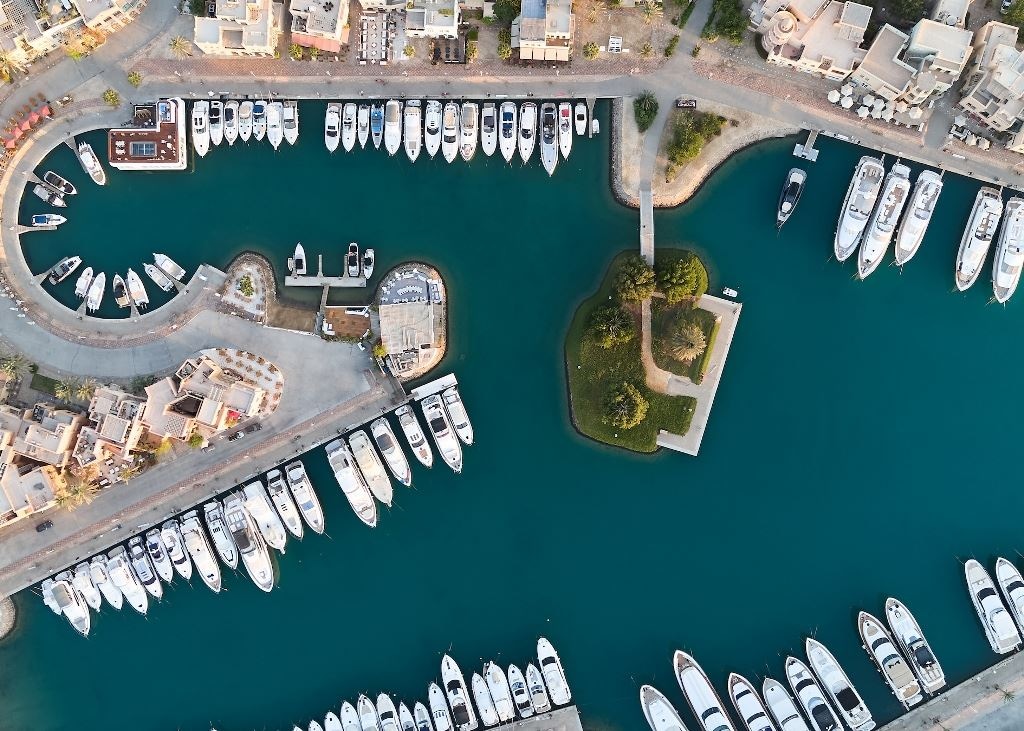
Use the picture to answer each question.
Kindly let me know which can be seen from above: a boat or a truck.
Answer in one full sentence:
I can see a boat in this picture.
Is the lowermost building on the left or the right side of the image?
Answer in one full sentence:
The lowermost building appears in the left half of the scene.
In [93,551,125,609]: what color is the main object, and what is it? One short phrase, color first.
white boat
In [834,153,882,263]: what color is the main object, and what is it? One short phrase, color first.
white boat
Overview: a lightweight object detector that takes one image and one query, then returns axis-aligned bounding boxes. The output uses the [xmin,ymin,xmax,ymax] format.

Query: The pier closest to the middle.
[404,374,458,403]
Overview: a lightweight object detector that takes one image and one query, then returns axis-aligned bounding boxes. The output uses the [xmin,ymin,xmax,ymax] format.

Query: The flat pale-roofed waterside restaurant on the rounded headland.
[380,301,436,372]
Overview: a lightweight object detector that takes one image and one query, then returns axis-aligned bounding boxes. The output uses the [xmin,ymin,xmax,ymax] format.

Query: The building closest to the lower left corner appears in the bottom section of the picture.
[0,461,68,528]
